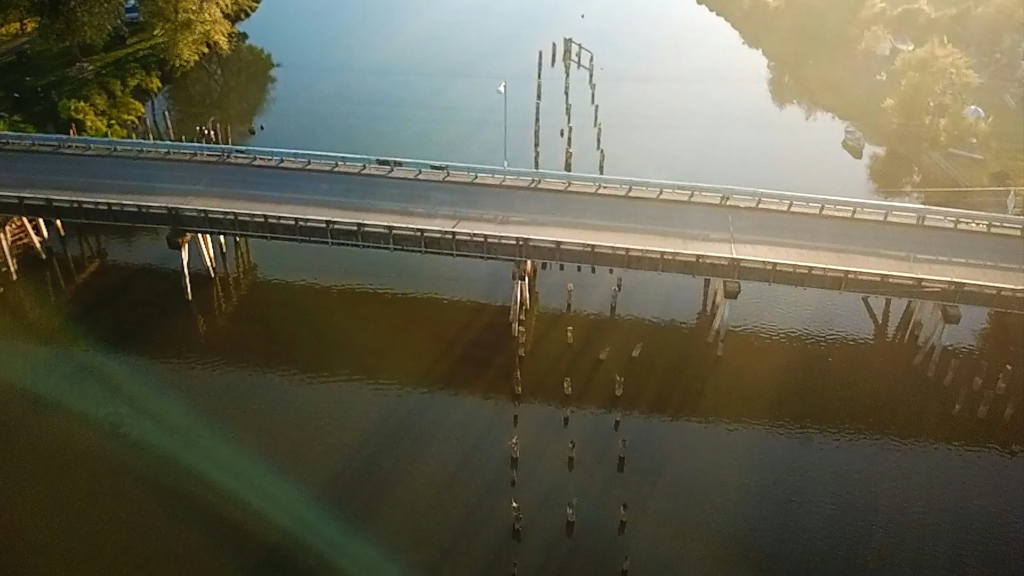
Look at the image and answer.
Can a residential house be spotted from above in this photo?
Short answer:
No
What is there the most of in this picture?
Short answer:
water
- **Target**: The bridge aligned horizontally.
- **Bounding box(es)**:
[0,132,1024,378]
